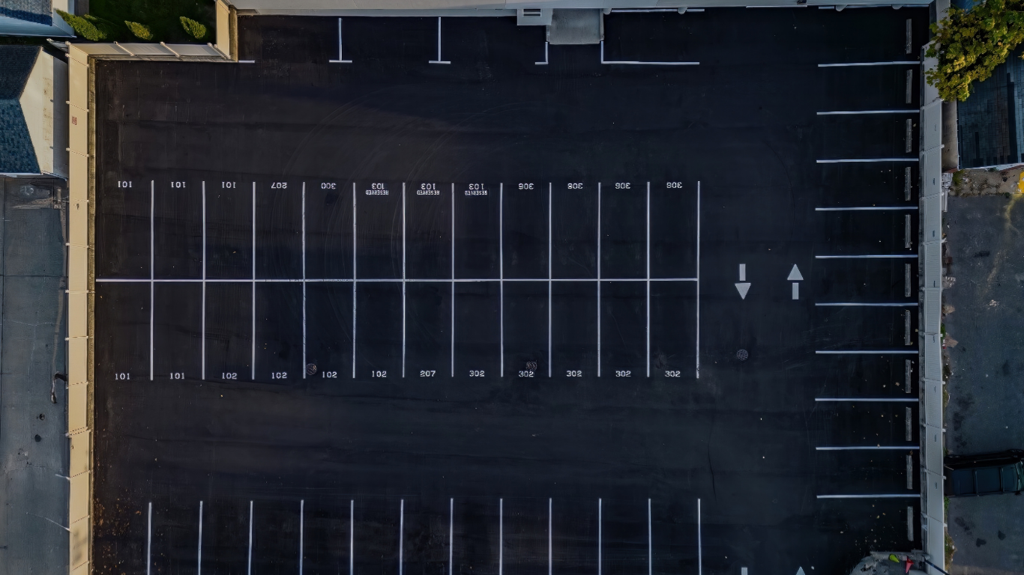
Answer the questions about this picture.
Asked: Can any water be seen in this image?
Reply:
No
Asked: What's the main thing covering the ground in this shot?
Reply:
paved ground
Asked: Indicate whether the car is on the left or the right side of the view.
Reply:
right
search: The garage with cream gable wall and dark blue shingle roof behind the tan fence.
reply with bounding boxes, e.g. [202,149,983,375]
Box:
[0,45,67,181]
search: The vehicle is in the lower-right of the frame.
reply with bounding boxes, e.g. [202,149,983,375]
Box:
[945,452,1024,497]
